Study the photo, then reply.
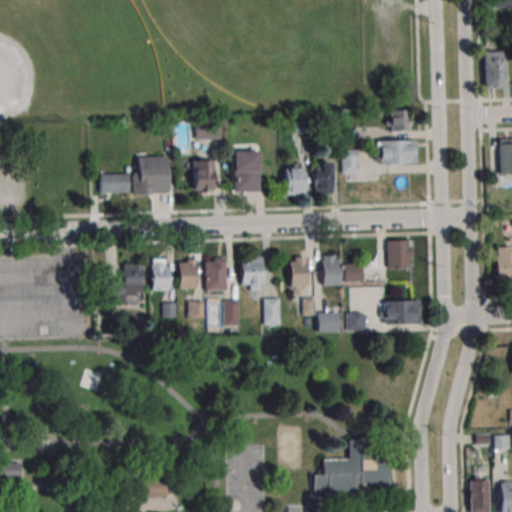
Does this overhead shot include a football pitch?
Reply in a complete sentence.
No, the picture doesn't show any football pitch.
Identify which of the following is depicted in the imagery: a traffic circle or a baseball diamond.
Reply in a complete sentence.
The one in the frame is a baseball diamond.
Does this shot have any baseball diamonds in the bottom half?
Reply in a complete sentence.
No, no baseball diamond appears in the bottom half.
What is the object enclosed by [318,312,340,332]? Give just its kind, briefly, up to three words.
building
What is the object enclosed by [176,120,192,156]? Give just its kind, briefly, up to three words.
swimming pool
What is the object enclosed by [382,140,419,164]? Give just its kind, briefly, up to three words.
house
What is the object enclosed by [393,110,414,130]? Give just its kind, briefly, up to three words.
house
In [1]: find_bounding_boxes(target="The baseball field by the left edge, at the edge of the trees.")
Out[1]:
[0,0,164,118]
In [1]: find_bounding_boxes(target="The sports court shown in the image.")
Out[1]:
[277,424,302,470]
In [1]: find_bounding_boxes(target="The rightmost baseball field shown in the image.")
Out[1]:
[140,0,360,108]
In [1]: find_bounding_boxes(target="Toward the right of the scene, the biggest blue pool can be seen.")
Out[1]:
[394,176,408,190]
